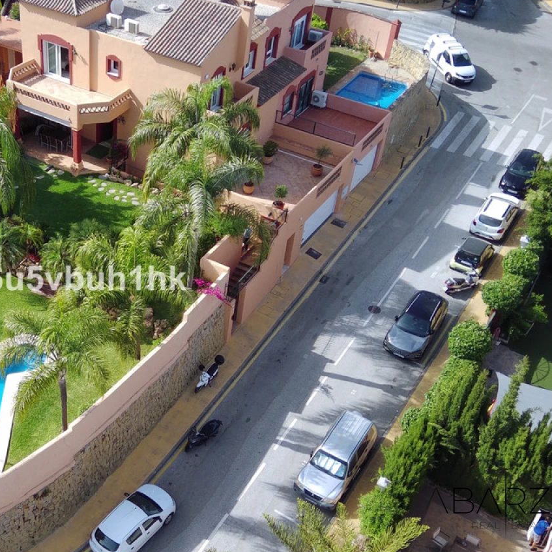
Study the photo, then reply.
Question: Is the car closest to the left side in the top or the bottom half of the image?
bottom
